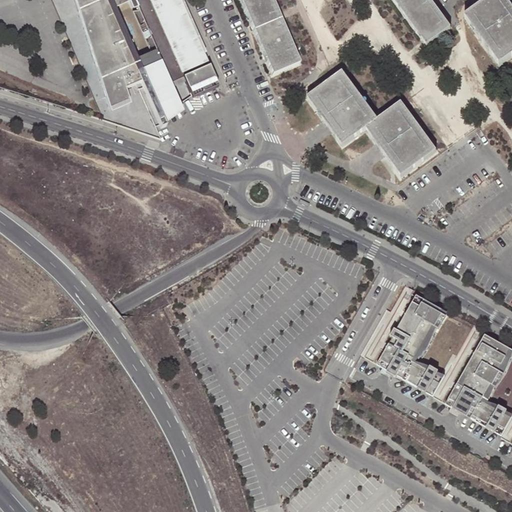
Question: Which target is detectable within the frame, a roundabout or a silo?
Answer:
roundabout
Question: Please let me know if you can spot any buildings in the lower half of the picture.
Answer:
Yes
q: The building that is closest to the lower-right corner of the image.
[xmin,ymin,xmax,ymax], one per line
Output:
[446,333,512,447]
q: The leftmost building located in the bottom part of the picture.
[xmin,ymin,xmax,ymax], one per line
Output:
[376,294,448,399]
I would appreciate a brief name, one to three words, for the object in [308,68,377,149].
building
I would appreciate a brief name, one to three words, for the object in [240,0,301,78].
building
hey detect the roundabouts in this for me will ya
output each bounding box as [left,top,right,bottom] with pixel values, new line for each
[228,164,290,222]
